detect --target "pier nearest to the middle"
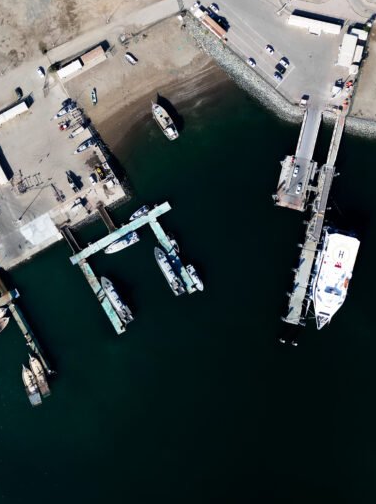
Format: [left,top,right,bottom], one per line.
[60,202,196,334]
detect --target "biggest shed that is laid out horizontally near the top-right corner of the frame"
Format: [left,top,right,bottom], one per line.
[286,15,341,36]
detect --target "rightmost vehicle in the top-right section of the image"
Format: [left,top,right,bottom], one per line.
[330,84,343,99]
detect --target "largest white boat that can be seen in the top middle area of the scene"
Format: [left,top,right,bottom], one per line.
[151,95,179,142]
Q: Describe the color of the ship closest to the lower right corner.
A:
white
